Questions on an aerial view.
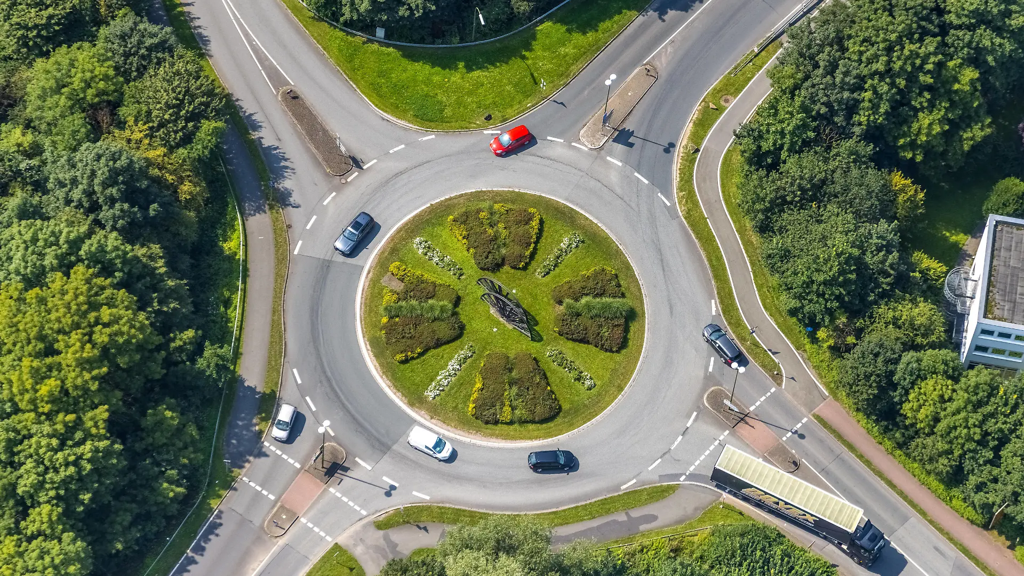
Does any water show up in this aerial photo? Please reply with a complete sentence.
No, the picture contains no water.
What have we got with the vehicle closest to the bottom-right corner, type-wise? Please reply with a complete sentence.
In the photo, the vehicle closest to the bottom-right corner shows up as a truck.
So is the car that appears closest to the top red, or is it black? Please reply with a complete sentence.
In this view, the car that appears closest to the top is red.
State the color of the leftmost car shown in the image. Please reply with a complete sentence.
The leftmost car looks white in the image.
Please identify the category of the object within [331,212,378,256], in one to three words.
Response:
car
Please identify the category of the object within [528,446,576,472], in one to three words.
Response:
car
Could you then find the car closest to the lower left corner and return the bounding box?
[268,402,301,443]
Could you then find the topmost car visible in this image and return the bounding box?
[491,123,532,156]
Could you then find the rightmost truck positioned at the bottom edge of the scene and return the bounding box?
[710,444,888,569]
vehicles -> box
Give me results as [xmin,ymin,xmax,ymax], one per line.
[491,123,532,156]
[710,444,888,569]
[701,322,745,367]
[406,423,455,463]
[268,402,301,443]
[528,446,576,472]
[331,212,378,256]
